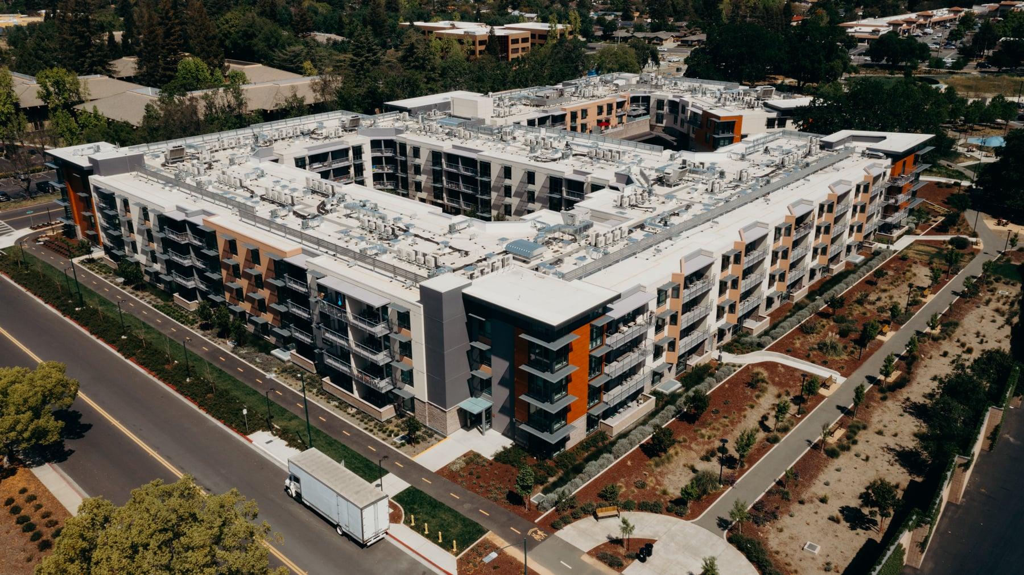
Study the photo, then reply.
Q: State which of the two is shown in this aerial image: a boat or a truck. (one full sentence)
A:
Looking from above, you can make out a truck.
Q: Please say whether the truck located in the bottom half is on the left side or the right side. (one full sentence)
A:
The truck located in the bottom half appears in the left half of the scene.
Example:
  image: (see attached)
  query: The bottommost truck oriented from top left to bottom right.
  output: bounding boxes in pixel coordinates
[288,447,391,544]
